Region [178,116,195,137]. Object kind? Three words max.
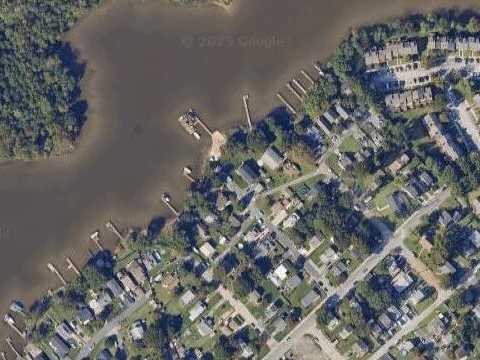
ship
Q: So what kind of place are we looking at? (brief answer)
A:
residential area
